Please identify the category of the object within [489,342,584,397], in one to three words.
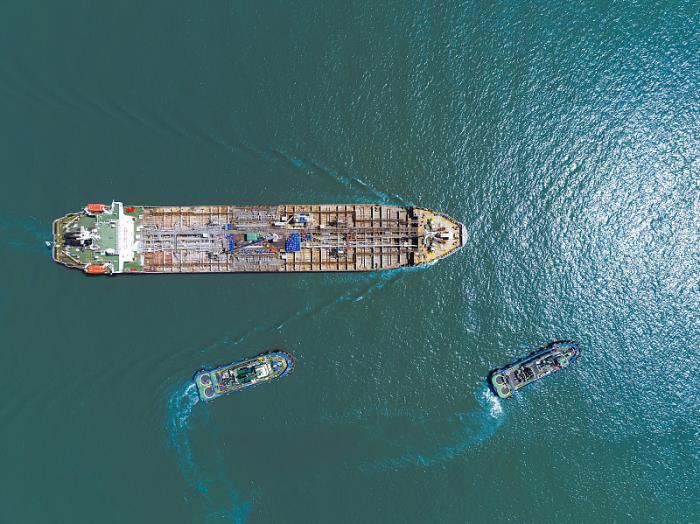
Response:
boat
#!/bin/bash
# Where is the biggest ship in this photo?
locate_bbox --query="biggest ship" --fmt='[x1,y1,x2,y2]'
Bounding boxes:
[45,200,468,274]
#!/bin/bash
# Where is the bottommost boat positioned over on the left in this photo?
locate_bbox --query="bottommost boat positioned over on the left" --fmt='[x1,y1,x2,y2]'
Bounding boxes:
[196,352,296,400]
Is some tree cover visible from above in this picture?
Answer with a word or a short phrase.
No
